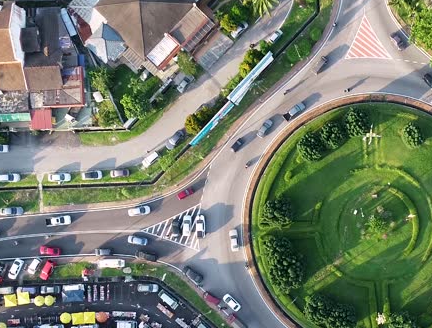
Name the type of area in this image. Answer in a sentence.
This image shows a residential area.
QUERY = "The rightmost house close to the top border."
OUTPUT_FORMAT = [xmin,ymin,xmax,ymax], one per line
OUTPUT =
[68,0,219,76]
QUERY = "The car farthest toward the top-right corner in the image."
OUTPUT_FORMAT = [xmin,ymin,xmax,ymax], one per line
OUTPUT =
[390,32,404,51]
